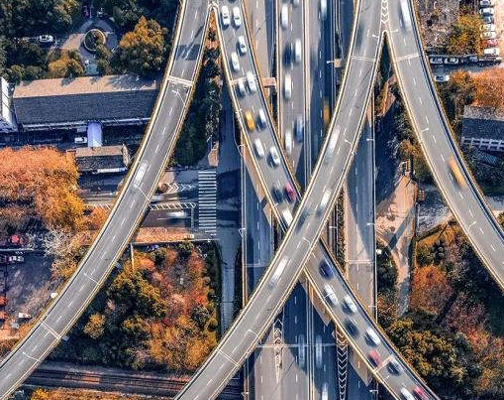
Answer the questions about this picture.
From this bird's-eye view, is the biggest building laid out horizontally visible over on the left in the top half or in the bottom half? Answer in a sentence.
It is in the top half that the biggest building laid out horizontally visible over on the left appears.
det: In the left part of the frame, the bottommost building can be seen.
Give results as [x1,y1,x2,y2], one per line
[75,144,129,176]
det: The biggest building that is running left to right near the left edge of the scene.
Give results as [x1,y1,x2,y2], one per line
[14,74,161,136]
